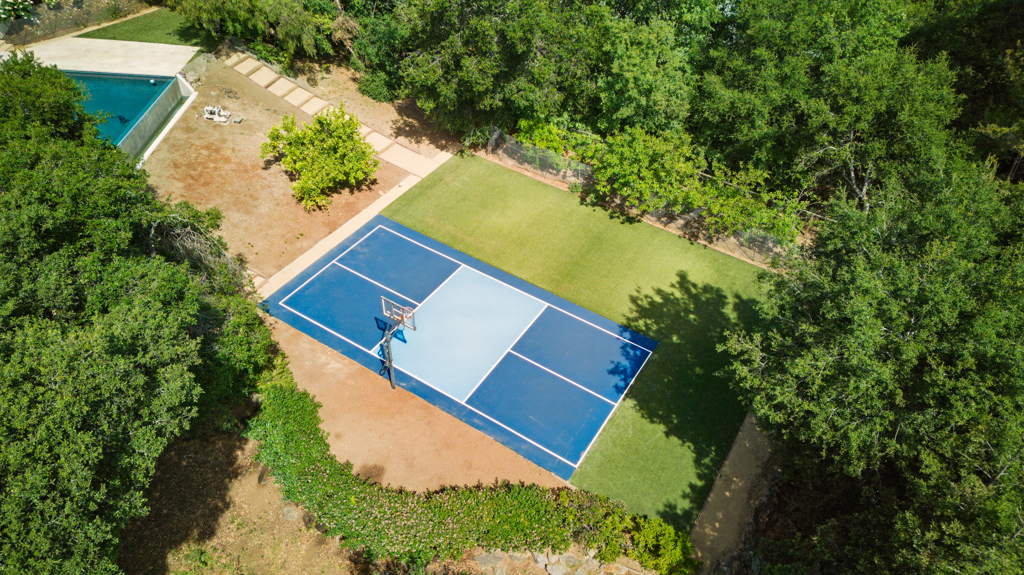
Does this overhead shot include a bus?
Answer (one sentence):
No, the frame has no bus in it.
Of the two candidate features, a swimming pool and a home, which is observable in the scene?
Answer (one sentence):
It is a swimming pool that can be seen here.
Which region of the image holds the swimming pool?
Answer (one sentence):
The swimming pool is located in the top left region of the scene.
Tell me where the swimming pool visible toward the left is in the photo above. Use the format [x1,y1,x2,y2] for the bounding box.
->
[1,64,196,182]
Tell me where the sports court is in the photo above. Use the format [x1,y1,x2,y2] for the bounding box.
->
[260,215,658,482]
